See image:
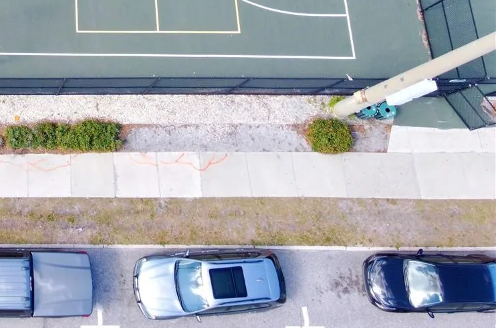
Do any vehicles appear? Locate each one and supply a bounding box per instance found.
[134,244,285,326]
[358,245,496,324]
[0,251,93,314]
